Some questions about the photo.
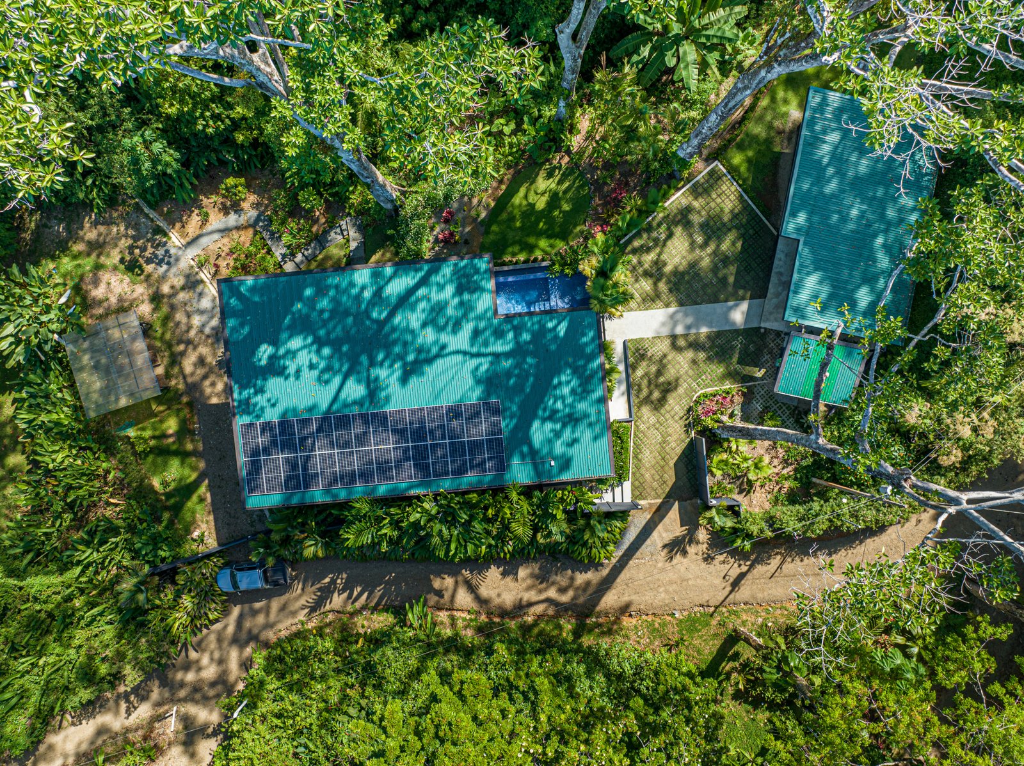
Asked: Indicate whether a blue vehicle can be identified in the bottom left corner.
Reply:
Yes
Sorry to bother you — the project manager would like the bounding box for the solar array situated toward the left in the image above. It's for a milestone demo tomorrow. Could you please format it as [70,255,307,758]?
[239,401,506,496]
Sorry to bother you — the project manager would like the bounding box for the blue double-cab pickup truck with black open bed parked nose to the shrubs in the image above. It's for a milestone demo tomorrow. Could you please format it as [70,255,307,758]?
[214,560,296,596]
